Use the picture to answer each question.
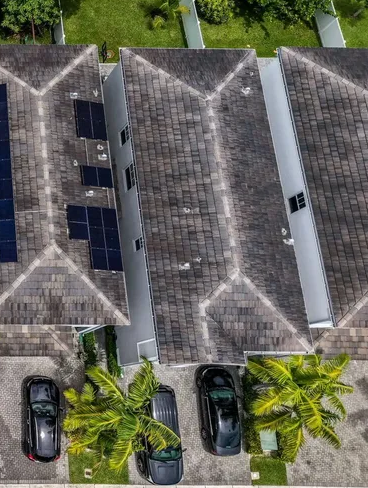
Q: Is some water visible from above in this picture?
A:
No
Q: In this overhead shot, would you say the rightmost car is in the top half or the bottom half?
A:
bottom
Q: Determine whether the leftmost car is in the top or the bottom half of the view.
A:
bottom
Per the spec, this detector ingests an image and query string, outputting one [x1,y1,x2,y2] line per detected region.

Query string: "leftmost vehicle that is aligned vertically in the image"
[21,376,65,466]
